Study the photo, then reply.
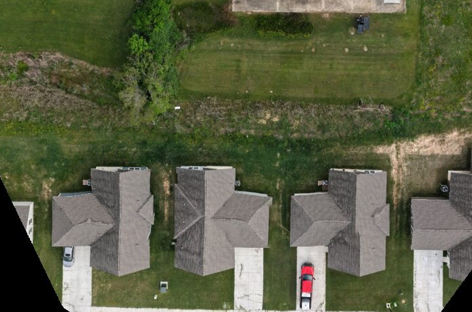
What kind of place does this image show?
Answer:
residential area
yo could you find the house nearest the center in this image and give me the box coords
[174,165,271,274]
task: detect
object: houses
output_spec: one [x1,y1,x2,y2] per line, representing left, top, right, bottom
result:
[412,147,472,285]
[174,165,271,274]
[290,167,389,274]
[52,165,152,274]
[14,198,32,241]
